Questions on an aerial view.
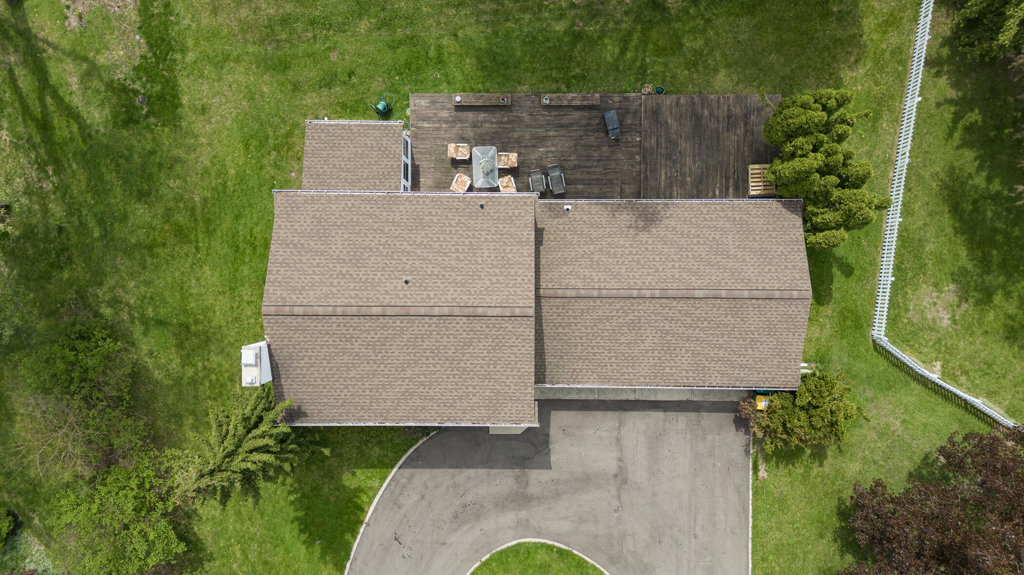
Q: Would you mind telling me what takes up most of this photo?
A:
grass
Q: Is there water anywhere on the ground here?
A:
No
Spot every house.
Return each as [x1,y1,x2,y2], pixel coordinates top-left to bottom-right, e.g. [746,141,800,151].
[242,119,813,434]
